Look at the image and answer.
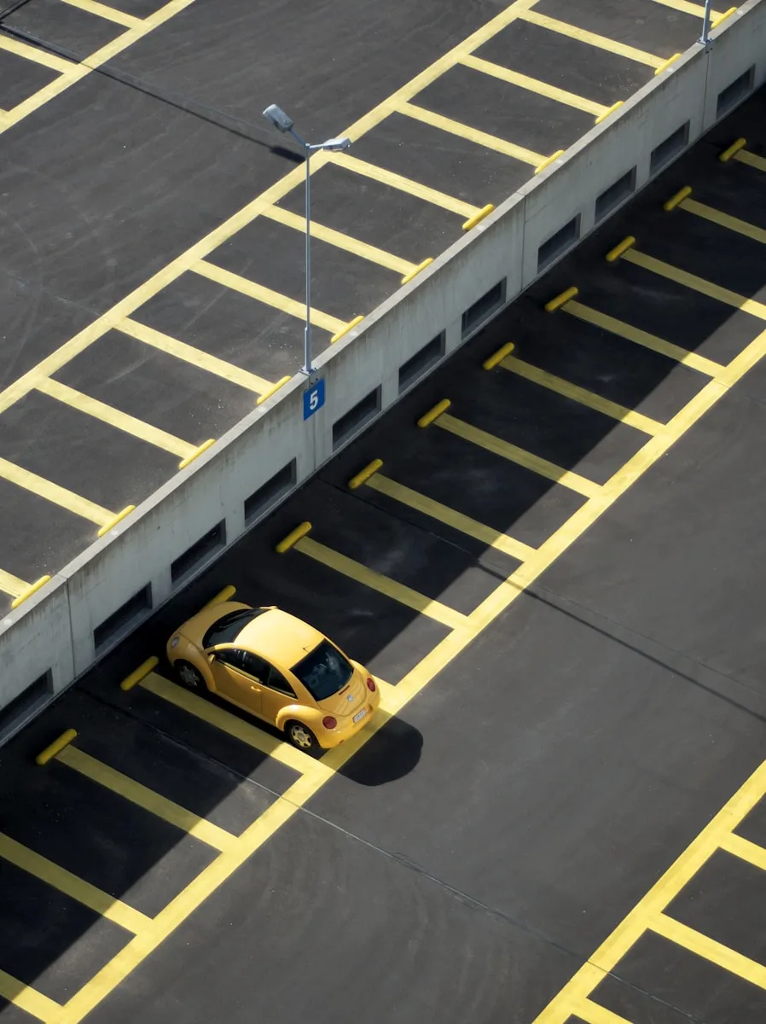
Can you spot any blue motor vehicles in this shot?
No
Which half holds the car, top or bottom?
bottom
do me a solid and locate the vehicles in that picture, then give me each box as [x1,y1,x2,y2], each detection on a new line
[165,602,381,752]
